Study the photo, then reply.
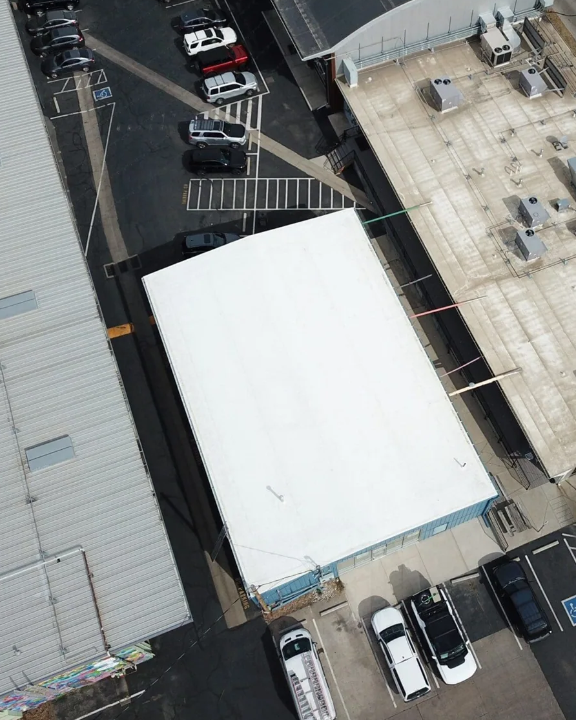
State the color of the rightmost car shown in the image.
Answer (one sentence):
The rightmost car looks black in the image.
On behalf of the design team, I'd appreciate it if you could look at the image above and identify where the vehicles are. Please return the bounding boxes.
[196,43,250,79]
[171,6,228,37]
[182,225,244,259]
[411,583,476,685]
[31,24,87,59]
[278,623,340,720]
[189,119,247,148]
[201,74,259,109]
[374,605,438,708]
[42,50,96,81]
[27,10,81,37]
[20,0,81,17]
[183,27,238,60]
[189,144,247,177]
[490,555,555,644]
